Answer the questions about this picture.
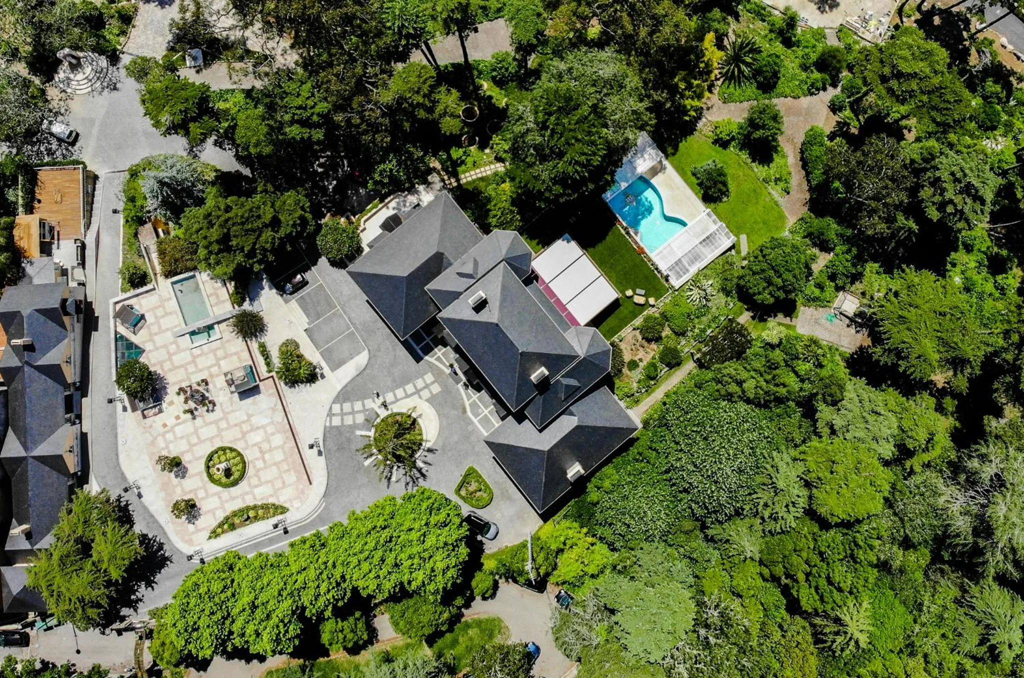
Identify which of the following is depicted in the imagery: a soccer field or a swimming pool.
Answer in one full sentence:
Visible in the photo is a swimming pool.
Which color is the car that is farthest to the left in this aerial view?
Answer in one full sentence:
The color of the car that is farthest to the left is black.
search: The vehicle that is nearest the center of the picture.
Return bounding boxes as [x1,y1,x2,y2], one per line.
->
[465,510,504,546]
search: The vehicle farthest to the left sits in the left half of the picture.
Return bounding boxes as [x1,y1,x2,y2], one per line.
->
[0,630,28,651]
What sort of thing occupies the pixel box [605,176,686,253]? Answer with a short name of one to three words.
swimming pool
